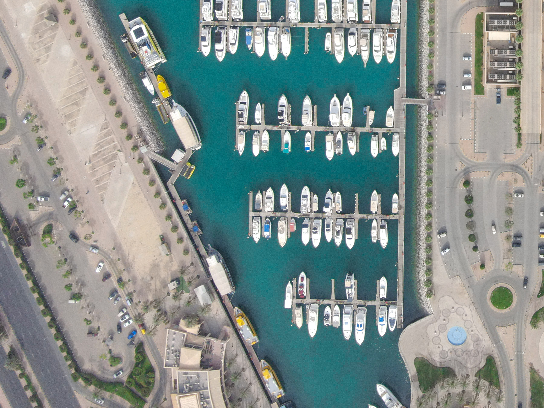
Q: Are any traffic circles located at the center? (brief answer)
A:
No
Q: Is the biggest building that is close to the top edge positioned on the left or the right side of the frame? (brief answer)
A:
right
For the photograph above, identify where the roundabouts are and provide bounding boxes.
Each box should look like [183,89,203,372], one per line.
[486,282,517,313]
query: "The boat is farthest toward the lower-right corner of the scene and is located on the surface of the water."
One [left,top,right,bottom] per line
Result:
[377,384,403,408]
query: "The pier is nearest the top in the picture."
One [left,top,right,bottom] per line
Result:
[199,0,400,55]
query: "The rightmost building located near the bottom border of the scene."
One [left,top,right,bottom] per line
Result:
[164,320,232,408]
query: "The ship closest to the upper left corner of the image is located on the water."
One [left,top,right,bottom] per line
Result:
[120,34,138,60]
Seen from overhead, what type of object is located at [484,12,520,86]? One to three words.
building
